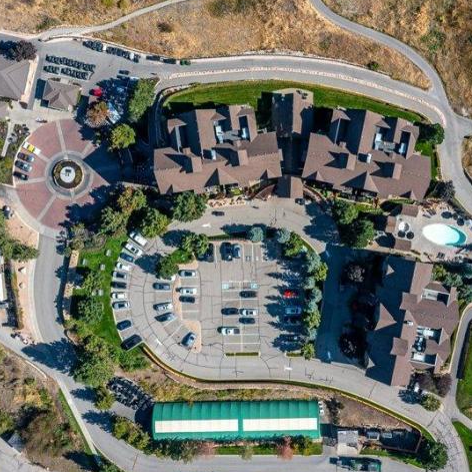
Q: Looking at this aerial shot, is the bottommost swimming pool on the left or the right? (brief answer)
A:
right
